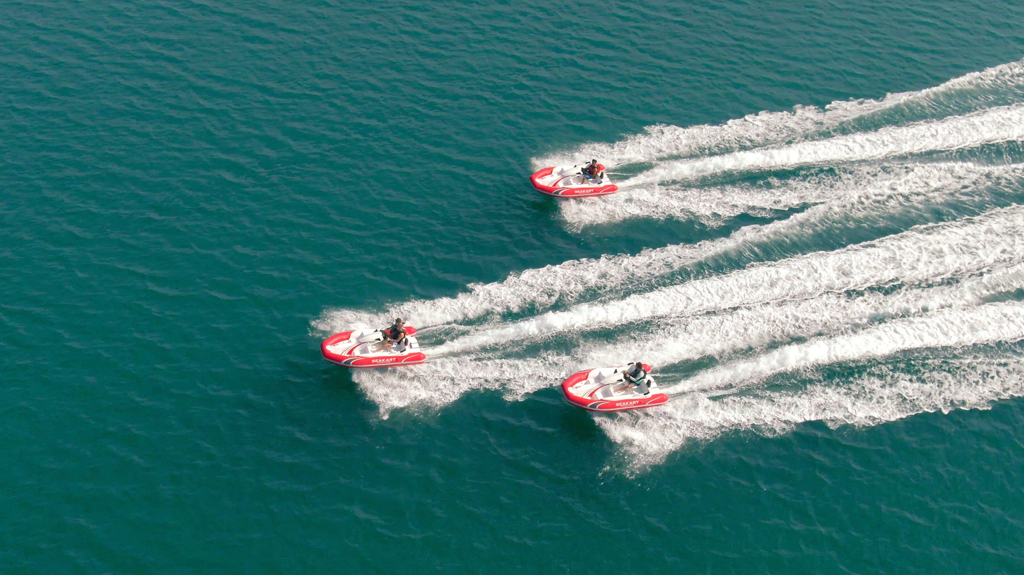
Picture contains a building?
No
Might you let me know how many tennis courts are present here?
0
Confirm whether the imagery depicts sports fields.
No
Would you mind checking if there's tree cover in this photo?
No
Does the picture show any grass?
No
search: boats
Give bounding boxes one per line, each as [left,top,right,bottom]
[560,362,669,410]
[321,326,427,369]
[530,162,618,197]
